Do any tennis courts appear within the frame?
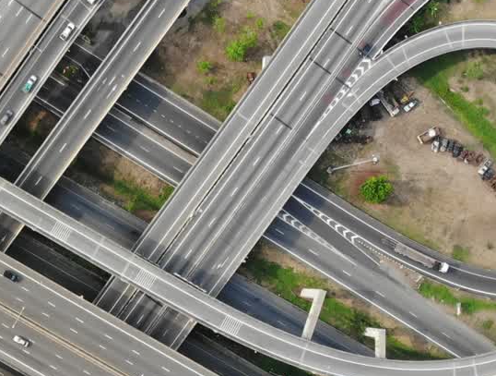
No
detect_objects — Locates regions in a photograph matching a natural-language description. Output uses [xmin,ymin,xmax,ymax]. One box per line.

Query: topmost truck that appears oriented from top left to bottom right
[377,88,404,115]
